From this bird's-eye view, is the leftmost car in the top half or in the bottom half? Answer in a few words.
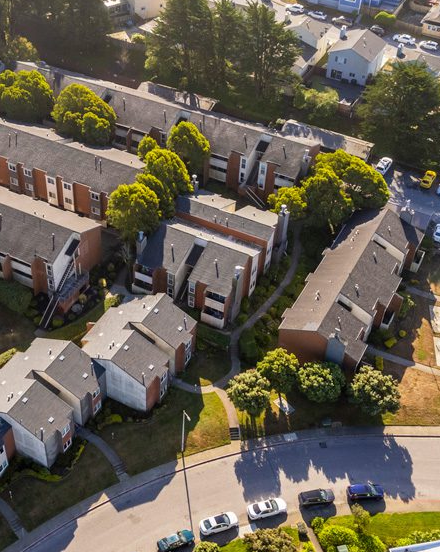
bottom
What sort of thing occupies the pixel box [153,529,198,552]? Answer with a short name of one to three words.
car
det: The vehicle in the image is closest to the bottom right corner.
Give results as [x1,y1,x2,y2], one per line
[344,482,386,503]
